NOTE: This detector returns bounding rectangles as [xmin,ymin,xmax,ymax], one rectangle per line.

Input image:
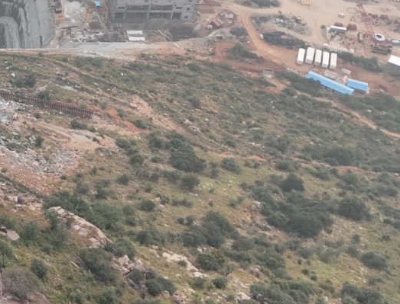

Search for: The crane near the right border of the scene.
[352,4,399,54]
